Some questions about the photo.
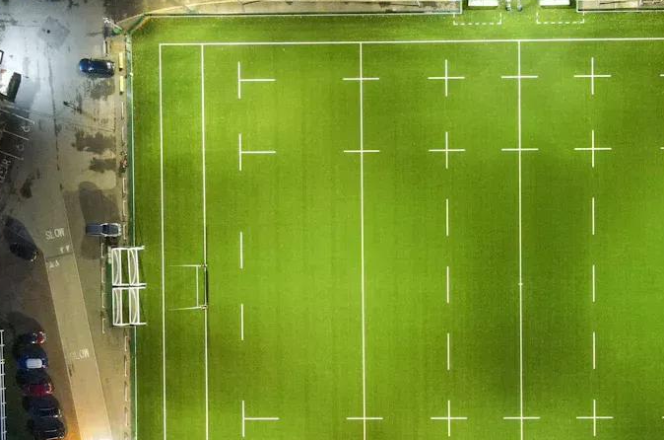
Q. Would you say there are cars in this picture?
Yes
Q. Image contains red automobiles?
Yes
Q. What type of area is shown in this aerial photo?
sports ground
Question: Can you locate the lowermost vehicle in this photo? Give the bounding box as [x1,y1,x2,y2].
[30,424,66,440]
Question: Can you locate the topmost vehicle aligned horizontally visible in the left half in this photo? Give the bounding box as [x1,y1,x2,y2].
[80,60,114,77]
